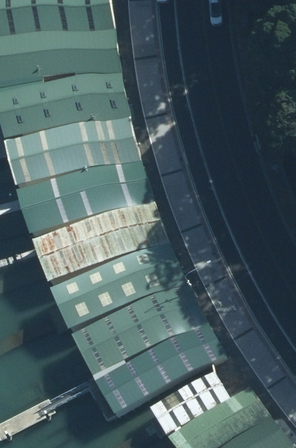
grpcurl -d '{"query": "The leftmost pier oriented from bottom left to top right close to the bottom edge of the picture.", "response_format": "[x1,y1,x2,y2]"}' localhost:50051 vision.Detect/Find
[0,400,59,444]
